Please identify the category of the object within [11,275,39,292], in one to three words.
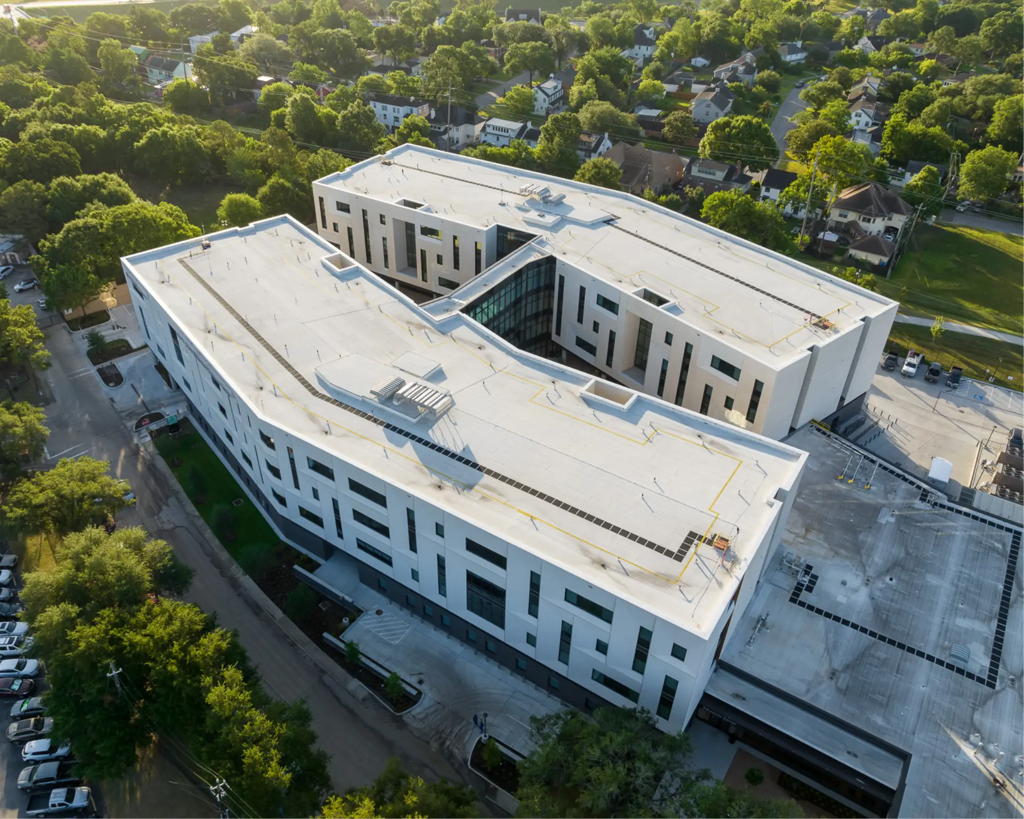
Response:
car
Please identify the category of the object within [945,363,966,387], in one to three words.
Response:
truck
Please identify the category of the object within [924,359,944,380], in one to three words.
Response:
vehicle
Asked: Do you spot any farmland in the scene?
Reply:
No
